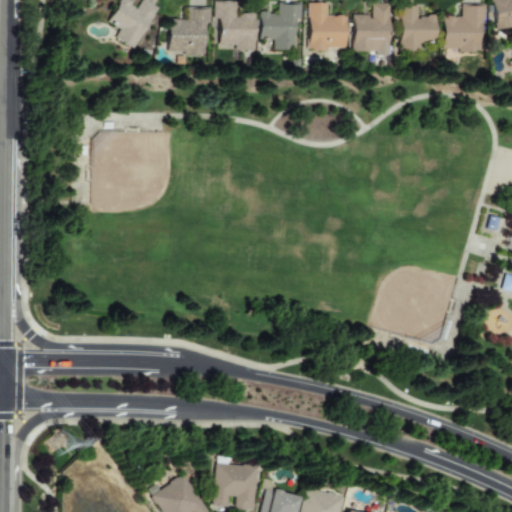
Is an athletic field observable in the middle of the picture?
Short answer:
Yes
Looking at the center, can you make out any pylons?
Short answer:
No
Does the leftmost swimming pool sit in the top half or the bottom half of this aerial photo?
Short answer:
top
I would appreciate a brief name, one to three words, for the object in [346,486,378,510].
swimming pool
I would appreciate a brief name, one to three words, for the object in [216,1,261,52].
house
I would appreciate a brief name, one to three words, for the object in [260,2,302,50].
house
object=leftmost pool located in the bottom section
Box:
[268,468,298,484]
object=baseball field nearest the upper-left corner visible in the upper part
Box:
[91,130,170,212]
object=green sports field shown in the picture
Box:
[34,92,490,366]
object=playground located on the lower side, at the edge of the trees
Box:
[484,308,512,336]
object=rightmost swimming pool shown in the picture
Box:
[493,50,508,74]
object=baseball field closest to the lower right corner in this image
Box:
[371,266,456,342]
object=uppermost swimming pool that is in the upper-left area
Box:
[87,22,118,43]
